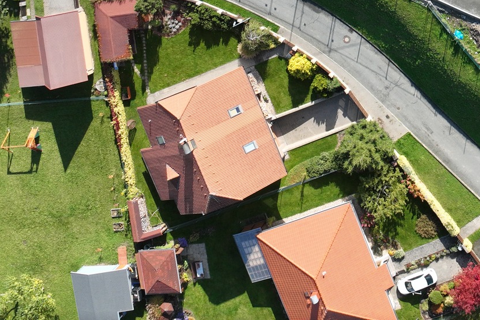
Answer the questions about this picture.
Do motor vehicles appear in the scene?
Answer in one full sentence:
Yes, there's a motor vehicle down there.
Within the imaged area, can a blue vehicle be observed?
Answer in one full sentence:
No, there isn't any blue vehicle down there.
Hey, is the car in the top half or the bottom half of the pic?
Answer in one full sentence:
The car is in the bottom half of the image.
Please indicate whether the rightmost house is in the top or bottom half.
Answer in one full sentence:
The rightmost house is in the bottom half of the image.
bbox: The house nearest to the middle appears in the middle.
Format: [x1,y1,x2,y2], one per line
[137,66,288,215]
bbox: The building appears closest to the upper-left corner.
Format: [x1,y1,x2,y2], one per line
[10,10,92,91]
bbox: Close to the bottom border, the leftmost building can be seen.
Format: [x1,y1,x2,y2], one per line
[71,265,142,320]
